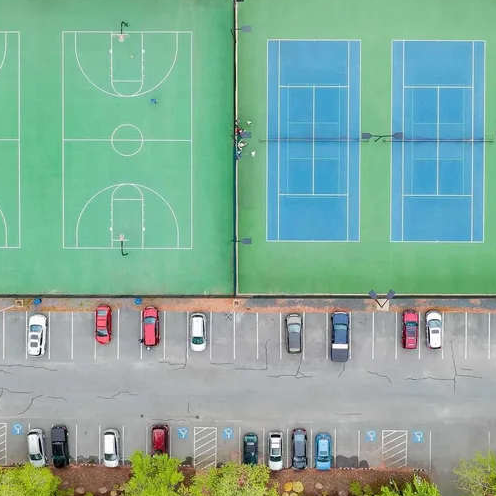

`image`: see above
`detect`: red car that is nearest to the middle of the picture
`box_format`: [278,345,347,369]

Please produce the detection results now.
[142,306,160,347]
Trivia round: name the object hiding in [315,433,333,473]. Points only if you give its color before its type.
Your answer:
blue car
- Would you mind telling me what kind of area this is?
sports ground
